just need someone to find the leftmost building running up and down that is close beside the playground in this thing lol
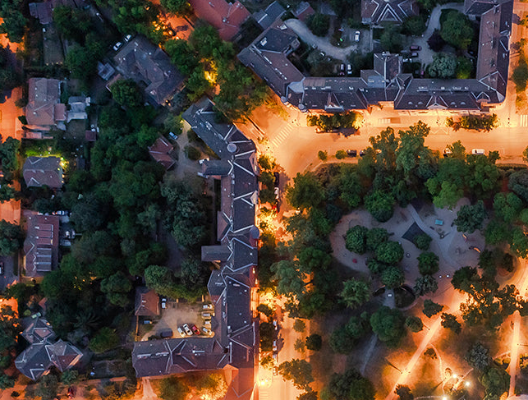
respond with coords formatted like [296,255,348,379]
[201,106,263,382]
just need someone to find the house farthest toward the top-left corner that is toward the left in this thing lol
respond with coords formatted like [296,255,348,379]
[30,0,56,26]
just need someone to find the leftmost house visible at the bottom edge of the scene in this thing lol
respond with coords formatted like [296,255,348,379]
[17,313,90,382]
